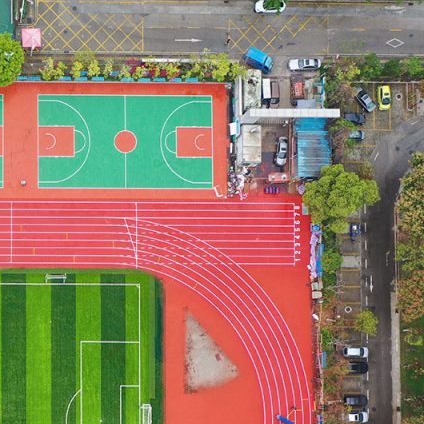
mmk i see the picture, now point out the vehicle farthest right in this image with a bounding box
[378,81,396,111]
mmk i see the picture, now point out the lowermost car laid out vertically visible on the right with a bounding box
[275,134,291,166]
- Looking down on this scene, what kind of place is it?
sports ground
